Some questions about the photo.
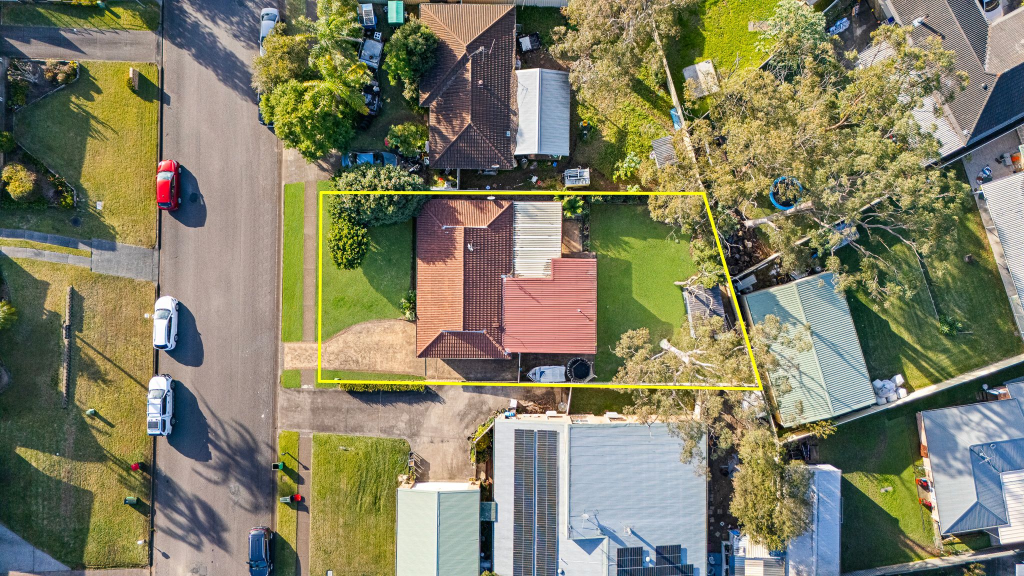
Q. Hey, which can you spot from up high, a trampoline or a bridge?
trampoline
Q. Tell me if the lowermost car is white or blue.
blue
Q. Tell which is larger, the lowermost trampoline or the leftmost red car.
the car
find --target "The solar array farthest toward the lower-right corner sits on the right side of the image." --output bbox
[618,546,694,576]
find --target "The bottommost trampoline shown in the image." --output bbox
[565,355,596,383]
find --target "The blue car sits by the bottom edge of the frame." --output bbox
[243,529,274,576]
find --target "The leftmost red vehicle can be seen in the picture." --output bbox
[153,159,182,209]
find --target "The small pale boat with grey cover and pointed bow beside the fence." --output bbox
[529,364,567,384]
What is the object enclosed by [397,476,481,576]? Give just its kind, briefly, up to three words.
building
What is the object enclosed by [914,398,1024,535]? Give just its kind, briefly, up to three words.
house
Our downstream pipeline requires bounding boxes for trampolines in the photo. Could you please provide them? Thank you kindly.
[565,355,596,383]
[770,178,801,208]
